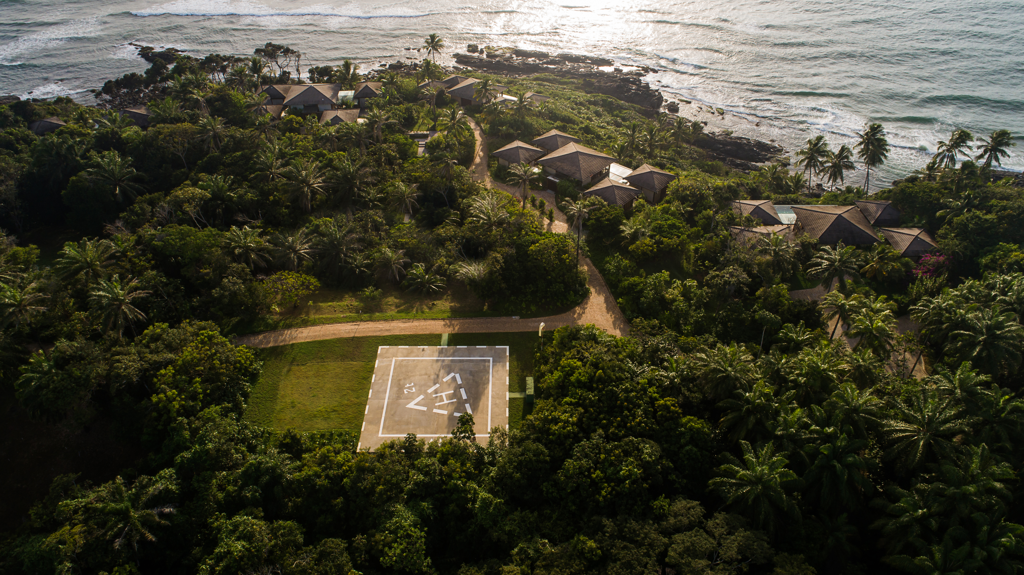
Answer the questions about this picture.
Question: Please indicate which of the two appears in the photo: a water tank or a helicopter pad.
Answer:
helicopter pad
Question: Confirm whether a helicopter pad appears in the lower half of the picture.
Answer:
Yes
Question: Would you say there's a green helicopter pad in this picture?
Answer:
No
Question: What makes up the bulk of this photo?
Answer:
trees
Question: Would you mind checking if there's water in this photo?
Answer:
Yes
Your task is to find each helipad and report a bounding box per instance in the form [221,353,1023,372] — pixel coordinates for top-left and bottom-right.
[358,346,509,453]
